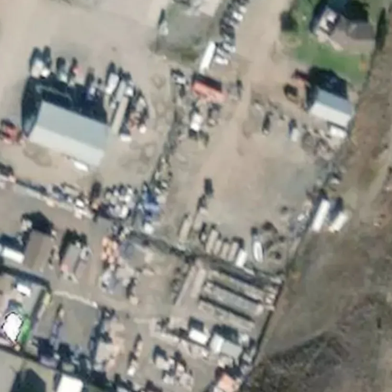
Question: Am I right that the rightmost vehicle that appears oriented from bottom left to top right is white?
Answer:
Yes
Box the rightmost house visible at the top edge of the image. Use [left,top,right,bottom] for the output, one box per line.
[324,7,376,52]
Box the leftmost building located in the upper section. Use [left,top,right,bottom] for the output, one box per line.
[26,101,114,168]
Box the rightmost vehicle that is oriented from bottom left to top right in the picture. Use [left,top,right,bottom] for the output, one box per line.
[327,209,349,234]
